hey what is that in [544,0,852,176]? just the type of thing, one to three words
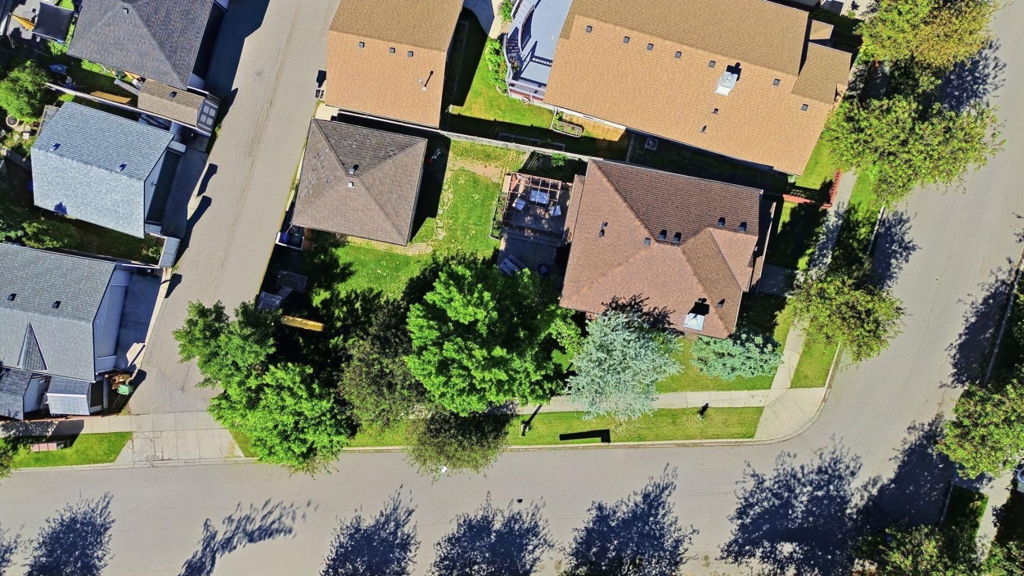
house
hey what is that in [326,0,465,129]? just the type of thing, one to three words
building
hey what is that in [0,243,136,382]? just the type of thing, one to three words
house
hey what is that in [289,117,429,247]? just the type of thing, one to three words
building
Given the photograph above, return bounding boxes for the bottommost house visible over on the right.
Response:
[562,158,776,335]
